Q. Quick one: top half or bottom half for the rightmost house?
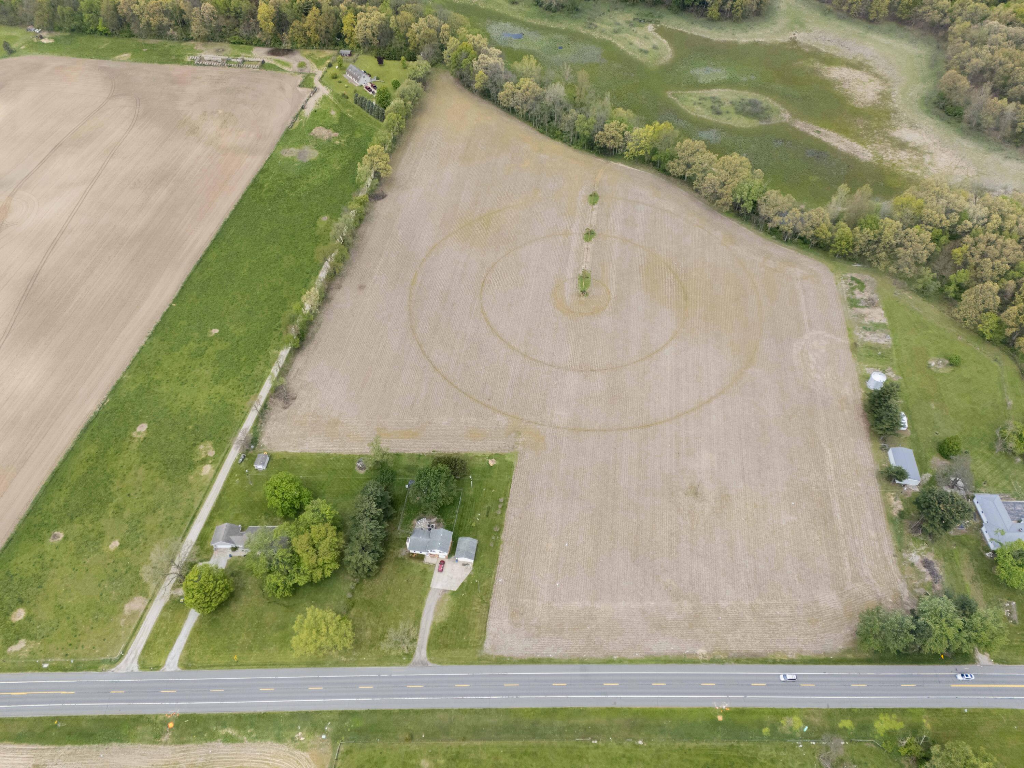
bottom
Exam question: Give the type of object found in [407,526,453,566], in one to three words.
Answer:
house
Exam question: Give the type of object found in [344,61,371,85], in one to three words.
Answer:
house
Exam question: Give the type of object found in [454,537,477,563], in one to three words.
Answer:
building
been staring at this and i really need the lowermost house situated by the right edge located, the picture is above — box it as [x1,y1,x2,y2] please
[974,495,1024,551]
